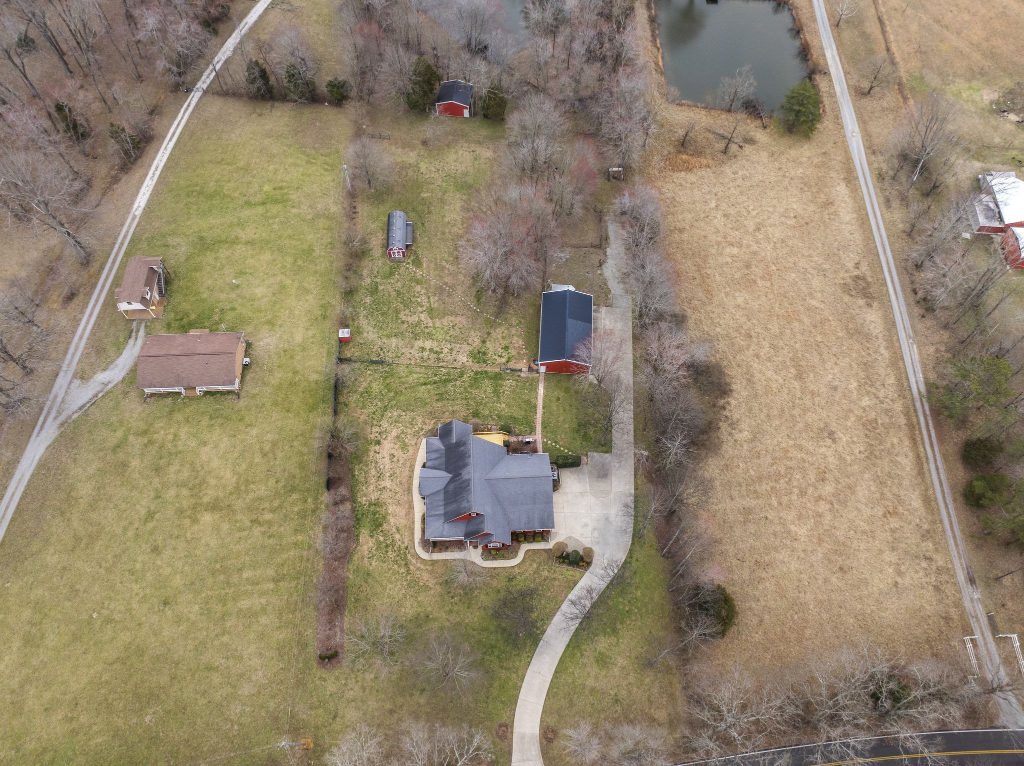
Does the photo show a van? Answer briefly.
No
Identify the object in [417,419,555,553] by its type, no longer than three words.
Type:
house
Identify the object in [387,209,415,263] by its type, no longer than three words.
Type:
shed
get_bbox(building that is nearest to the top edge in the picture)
[432,76,473,117]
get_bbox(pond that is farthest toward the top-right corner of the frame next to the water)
[651,0,813,124]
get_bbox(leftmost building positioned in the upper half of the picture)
[114,254,172,320]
